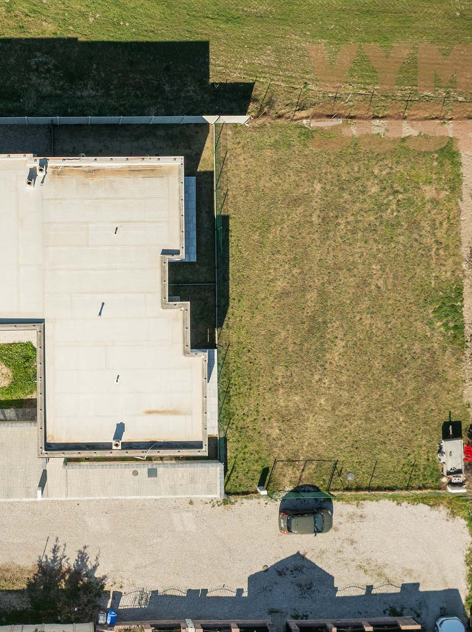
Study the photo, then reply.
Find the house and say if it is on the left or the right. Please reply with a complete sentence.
The house sits on the left side.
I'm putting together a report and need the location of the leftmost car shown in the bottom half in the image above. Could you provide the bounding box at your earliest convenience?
[277,506,333,538]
